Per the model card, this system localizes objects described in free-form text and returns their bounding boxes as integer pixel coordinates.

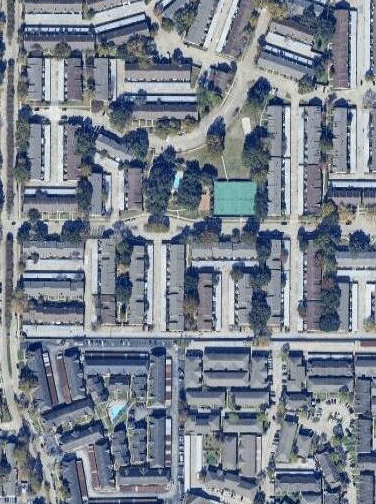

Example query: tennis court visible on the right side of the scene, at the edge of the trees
[213,181,255,216]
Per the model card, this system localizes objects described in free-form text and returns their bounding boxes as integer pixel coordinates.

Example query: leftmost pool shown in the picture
[104,401,129,422]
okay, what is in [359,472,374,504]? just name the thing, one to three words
building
